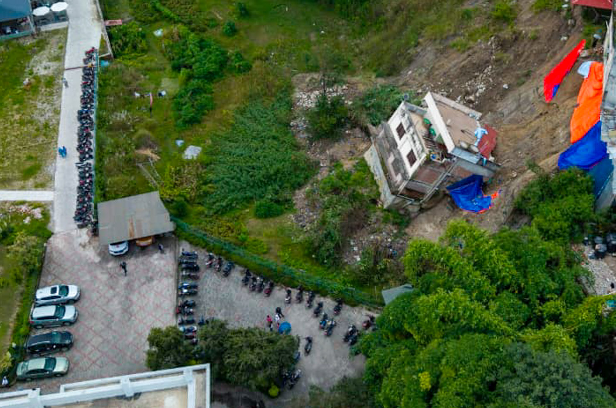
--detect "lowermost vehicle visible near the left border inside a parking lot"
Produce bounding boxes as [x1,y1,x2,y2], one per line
[12,353,69,380]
